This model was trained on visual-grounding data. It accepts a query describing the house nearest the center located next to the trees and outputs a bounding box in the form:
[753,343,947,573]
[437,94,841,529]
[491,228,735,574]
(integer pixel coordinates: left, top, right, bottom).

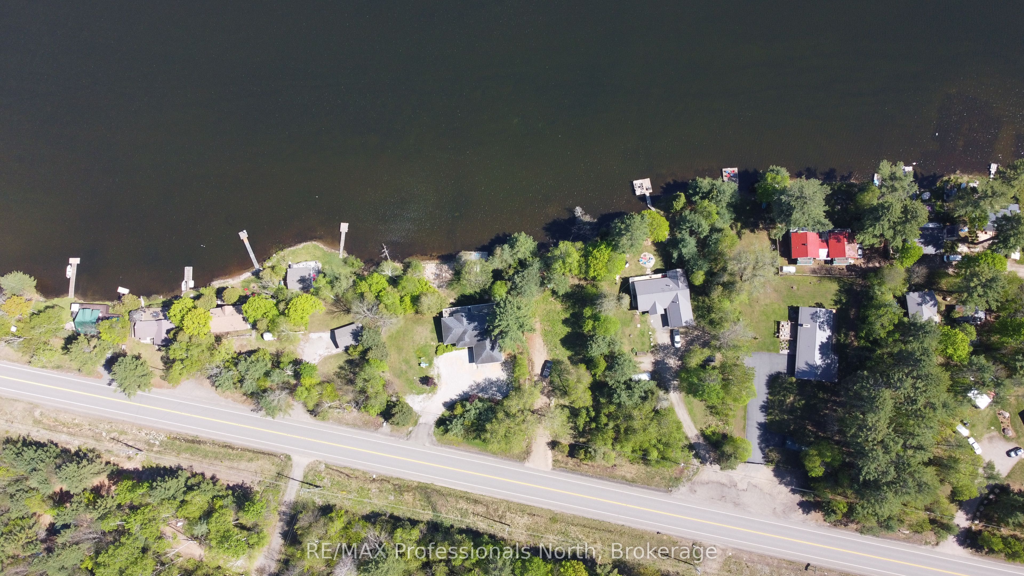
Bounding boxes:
[441,307,503,365]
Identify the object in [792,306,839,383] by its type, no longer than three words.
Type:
house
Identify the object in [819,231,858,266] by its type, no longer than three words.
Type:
house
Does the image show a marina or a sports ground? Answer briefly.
marina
